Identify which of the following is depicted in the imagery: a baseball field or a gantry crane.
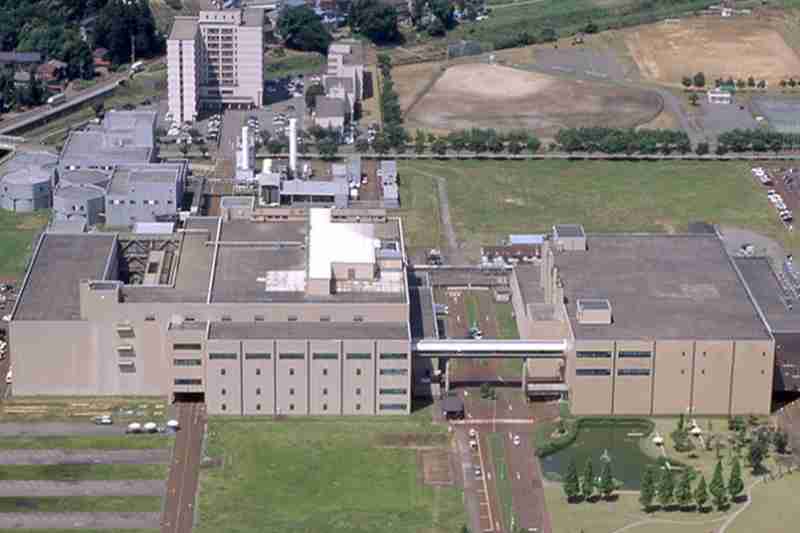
baseball field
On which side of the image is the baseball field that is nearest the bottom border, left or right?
right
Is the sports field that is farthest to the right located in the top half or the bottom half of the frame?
top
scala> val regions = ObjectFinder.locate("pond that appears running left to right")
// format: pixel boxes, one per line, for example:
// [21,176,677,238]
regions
[542,421,684,488]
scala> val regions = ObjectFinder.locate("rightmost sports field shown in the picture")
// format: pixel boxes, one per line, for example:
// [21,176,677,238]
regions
[624,20,800,89]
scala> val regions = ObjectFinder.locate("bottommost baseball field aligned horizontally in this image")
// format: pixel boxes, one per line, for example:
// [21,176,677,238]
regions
[402,62,666,134]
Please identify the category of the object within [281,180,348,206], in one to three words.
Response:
shed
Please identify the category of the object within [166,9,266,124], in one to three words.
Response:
building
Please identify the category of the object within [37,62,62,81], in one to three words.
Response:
house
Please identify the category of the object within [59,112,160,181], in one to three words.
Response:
building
